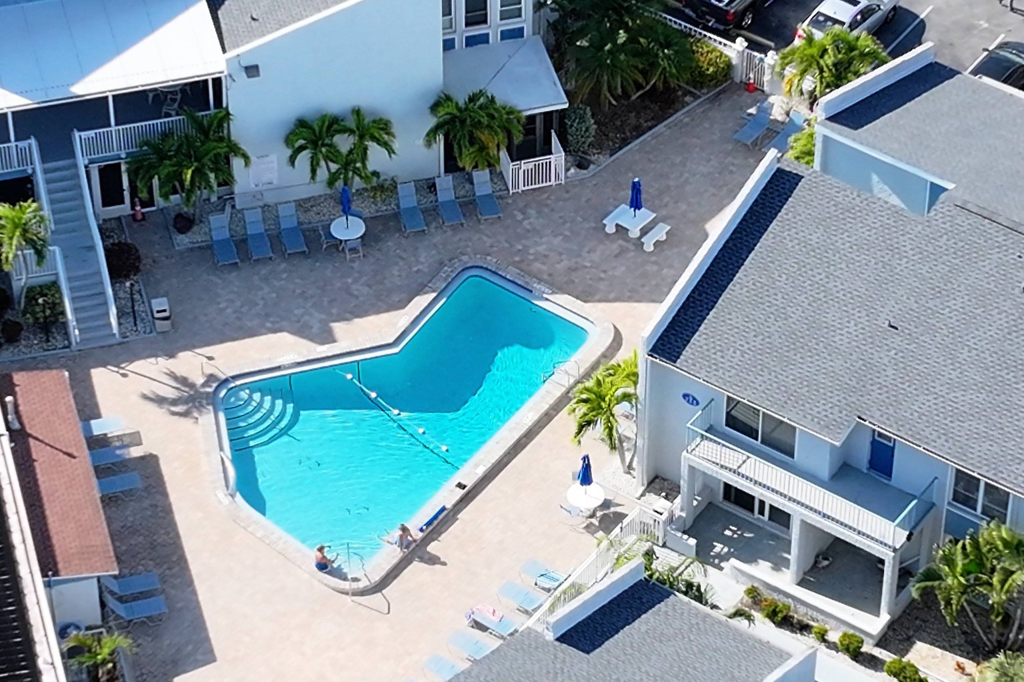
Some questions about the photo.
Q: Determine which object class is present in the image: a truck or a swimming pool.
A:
swimming pool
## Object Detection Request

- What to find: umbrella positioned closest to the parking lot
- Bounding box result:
[631,170,643,217]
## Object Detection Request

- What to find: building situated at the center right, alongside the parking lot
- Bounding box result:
[634,42,1024,644]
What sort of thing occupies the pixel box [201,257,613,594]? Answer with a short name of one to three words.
swimming pool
